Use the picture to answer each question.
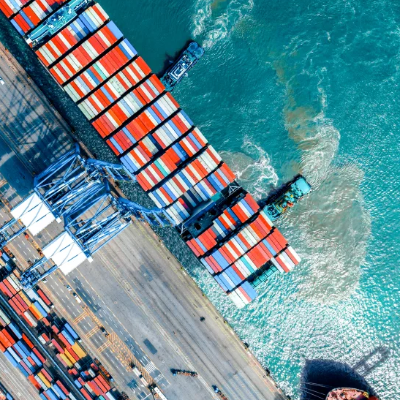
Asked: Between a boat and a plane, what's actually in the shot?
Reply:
boat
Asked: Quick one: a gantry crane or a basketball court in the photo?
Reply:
gantry crane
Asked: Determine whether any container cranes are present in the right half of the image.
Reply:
No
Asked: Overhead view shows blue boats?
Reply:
Yes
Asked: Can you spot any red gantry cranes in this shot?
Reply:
No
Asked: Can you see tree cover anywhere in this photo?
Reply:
No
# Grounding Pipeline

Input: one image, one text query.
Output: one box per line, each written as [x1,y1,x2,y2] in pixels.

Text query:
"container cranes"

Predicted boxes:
[0,141,135,254]
[26,179,173,295]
